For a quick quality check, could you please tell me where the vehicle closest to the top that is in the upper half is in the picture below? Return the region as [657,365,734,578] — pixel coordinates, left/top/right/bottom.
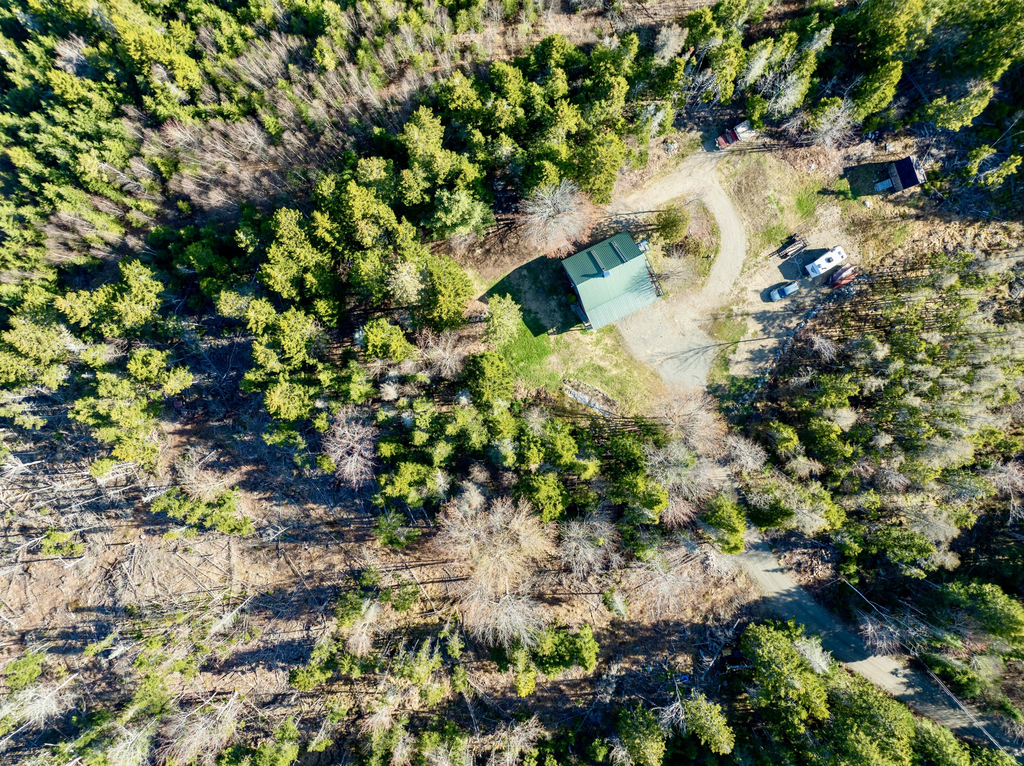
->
[714,121,755,150]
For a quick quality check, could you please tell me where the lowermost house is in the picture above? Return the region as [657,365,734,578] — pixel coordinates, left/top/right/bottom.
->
[561,231,665,334]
